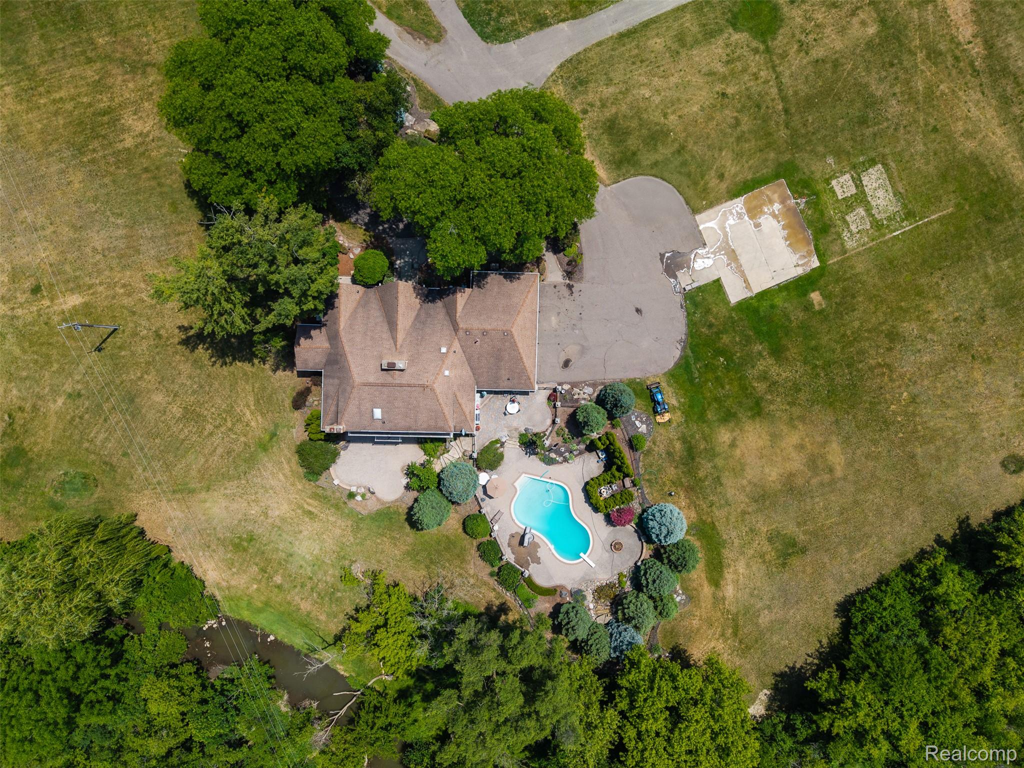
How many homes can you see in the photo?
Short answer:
1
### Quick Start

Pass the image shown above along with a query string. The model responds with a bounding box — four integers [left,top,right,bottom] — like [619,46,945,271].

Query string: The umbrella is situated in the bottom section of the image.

[487,477,507,498]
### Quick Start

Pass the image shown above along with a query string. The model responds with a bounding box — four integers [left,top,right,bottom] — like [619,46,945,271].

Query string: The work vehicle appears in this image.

[650,381,672,425]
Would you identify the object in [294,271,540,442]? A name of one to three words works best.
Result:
house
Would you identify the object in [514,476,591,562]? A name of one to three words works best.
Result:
swimming pool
